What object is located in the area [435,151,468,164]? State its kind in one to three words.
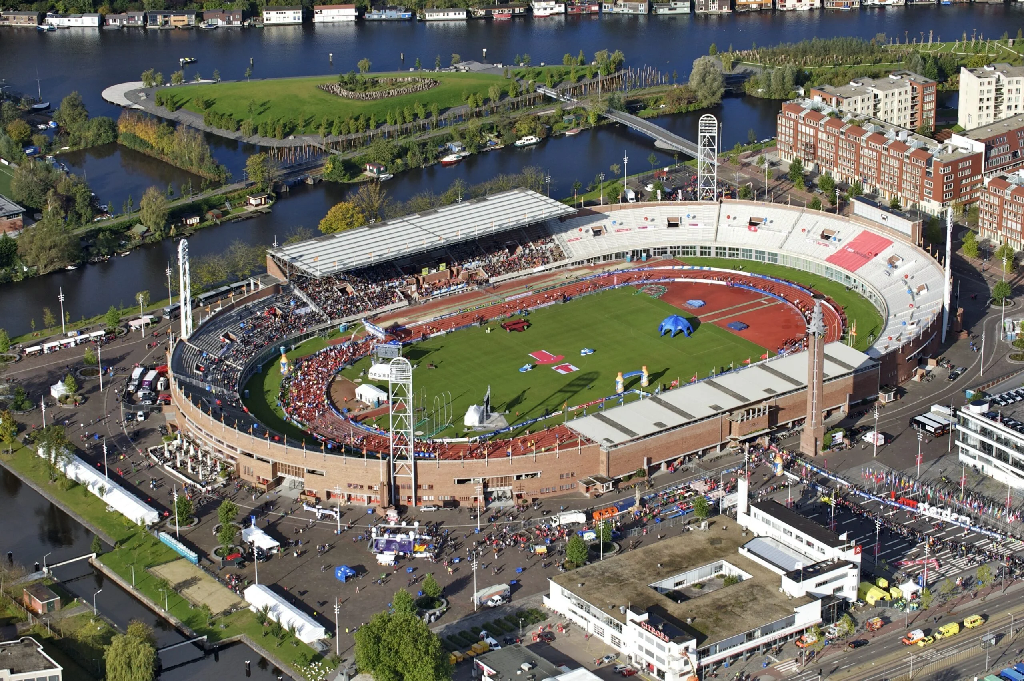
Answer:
boat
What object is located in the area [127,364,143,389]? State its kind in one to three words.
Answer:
vehicle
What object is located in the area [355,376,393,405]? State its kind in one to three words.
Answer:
tent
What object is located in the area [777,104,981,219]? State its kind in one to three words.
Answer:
building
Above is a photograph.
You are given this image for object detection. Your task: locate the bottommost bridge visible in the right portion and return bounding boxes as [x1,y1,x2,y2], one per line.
[599,109,723,165]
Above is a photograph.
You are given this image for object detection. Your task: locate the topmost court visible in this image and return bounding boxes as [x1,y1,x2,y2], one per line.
[634,162,707,199]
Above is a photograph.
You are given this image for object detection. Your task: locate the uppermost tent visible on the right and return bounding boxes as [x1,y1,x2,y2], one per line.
[657,309,695,336]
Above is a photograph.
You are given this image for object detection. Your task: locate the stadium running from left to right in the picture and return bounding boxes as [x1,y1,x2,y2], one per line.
[168,188,946,510]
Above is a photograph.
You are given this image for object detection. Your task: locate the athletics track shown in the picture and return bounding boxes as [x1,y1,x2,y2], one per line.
[293,269,838,454]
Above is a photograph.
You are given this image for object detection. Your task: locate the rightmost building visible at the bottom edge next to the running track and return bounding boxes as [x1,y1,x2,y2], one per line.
[548,478,862,681]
